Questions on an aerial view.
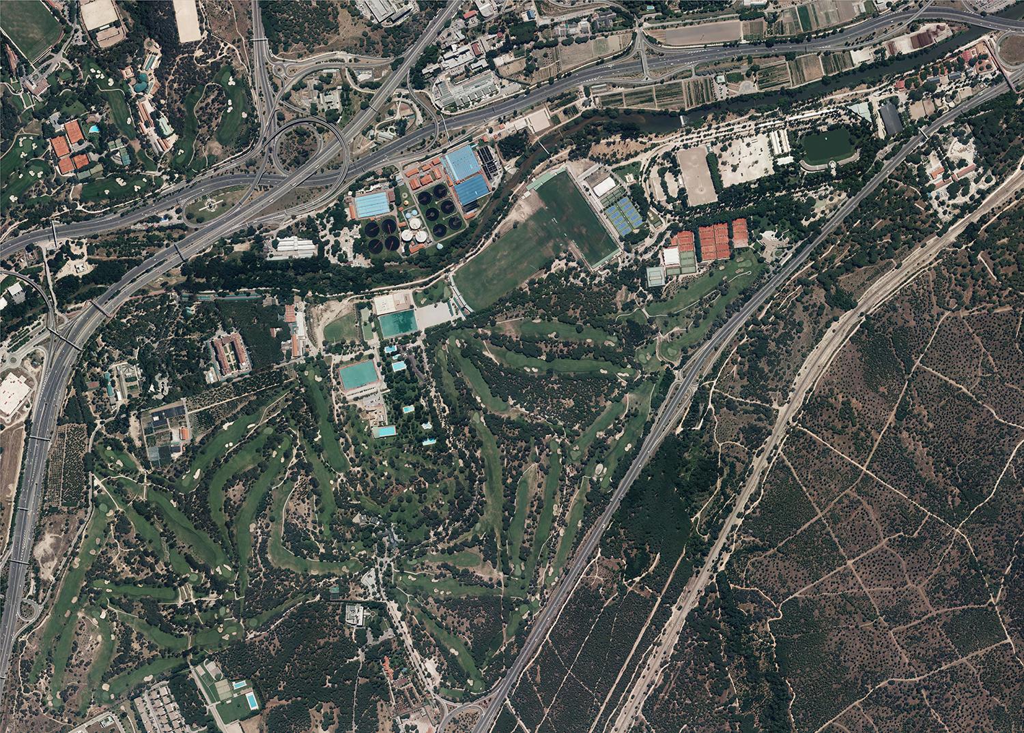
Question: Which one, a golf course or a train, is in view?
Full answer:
Looking from above, you can make out a golf course.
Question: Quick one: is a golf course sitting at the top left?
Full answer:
Yes, a golf course shows up at the top left.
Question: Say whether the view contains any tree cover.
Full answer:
Yes, there is tree cover in the image.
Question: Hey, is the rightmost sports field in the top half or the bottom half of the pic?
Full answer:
You can find the rightmost sports field in the top half.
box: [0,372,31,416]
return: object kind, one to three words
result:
building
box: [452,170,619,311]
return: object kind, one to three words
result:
sports field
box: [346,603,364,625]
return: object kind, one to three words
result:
building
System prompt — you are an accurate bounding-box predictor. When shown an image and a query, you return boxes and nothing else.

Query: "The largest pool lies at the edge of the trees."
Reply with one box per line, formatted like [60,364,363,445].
[372,426,397,438]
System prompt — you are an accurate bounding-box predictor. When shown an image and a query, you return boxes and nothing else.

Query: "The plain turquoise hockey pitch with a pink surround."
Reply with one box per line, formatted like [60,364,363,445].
[338,359,381,392]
